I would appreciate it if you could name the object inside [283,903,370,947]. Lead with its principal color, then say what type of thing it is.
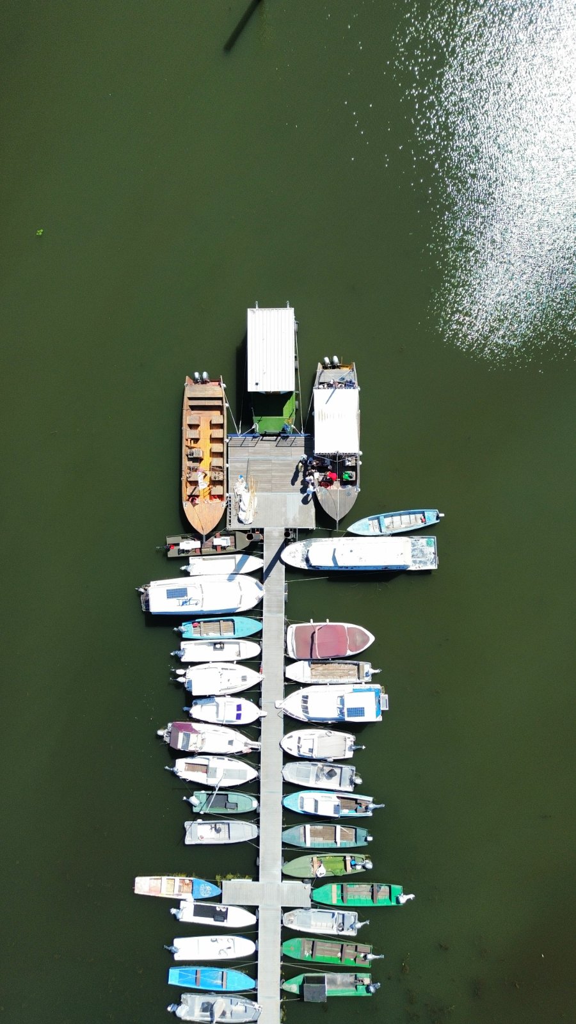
white boat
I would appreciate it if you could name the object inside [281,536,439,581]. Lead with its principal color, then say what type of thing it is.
white boat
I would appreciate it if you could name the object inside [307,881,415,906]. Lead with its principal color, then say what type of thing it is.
green boat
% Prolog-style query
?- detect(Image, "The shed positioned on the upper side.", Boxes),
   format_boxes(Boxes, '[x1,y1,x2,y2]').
[239,302,305,435]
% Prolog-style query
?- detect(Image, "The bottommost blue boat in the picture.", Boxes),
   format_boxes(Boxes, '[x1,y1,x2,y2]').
[168,962,257,992]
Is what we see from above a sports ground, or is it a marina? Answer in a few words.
marina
